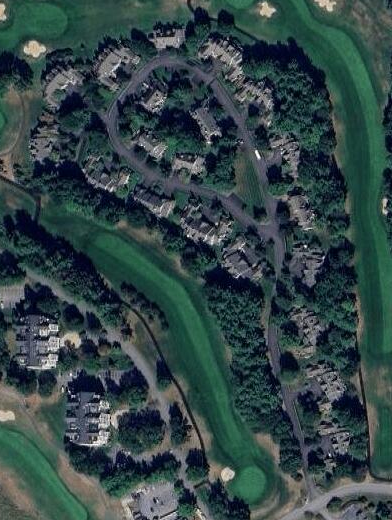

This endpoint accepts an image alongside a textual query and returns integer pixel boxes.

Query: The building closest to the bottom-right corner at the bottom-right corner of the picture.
[316,422,354,464]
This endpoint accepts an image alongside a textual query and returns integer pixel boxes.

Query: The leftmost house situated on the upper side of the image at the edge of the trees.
[31,110,60,163]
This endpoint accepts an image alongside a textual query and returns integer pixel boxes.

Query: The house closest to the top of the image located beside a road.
[148,25,187,52]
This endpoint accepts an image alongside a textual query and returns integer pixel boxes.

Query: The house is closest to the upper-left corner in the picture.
[40,65,85,112]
